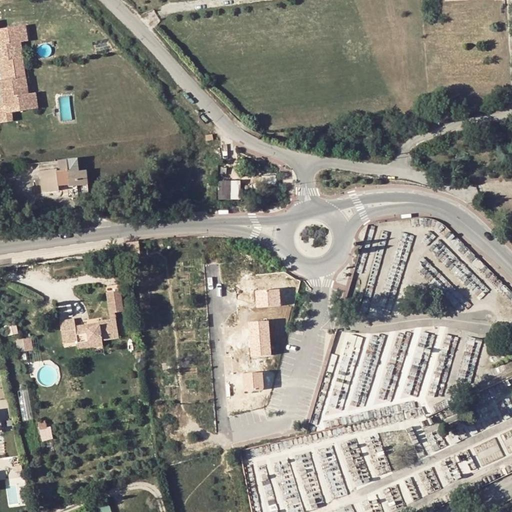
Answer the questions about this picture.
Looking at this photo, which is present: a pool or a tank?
pool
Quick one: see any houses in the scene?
Yes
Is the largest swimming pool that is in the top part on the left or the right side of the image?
left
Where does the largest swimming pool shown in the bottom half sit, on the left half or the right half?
left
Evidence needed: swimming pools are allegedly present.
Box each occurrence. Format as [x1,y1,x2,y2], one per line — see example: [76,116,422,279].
[7,485,18,505]
[31,360,61,388]
[56,93,77,124]
[38,44,52,58]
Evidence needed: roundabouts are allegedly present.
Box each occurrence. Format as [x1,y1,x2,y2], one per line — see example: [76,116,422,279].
[257,194,366,289]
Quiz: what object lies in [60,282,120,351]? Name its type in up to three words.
house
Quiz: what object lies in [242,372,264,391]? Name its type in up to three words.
house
